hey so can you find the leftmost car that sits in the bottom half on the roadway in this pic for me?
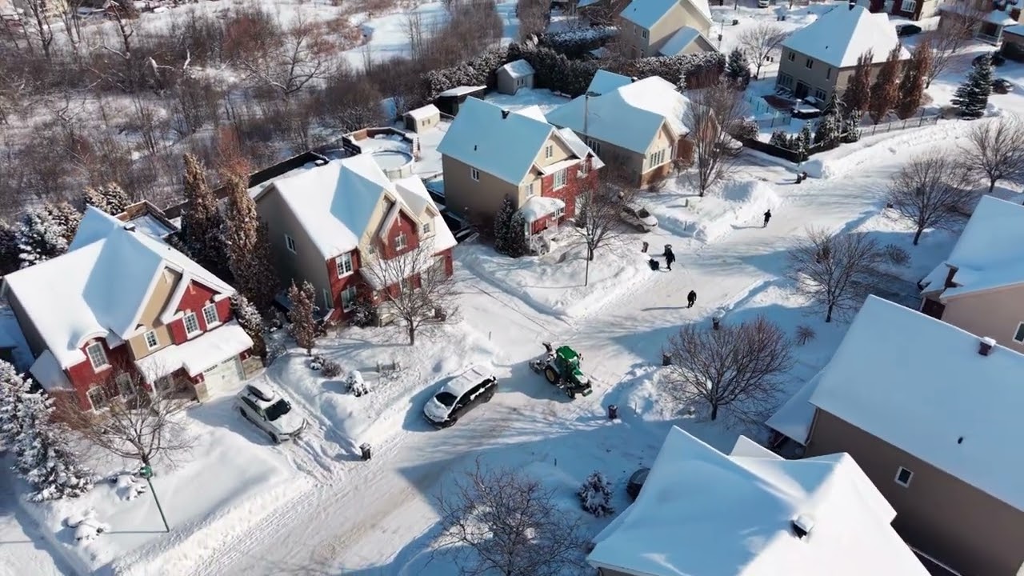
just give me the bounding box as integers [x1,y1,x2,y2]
[239,382,302,440]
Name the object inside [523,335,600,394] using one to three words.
work vehicle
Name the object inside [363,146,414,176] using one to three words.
swimming pool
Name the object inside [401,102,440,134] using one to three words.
shed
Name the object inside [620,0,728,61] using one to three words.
house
